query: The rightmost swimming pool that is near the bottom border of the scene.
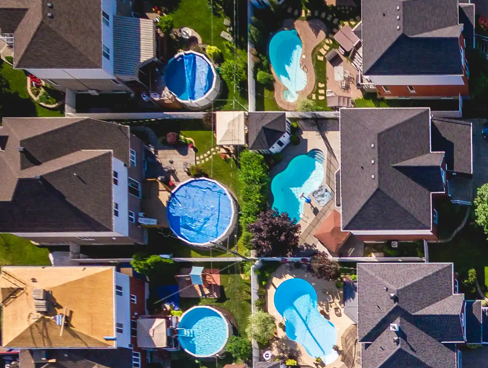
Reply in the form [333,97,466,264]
[271,275,341,361]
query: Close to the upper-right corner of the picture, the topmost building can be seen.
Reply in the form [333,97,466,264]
[361,0,477,97]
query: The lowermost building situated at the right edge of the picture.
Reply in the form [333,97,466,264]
[356,262,483,368]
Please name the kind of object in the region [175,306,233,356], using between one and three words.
swimming pool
